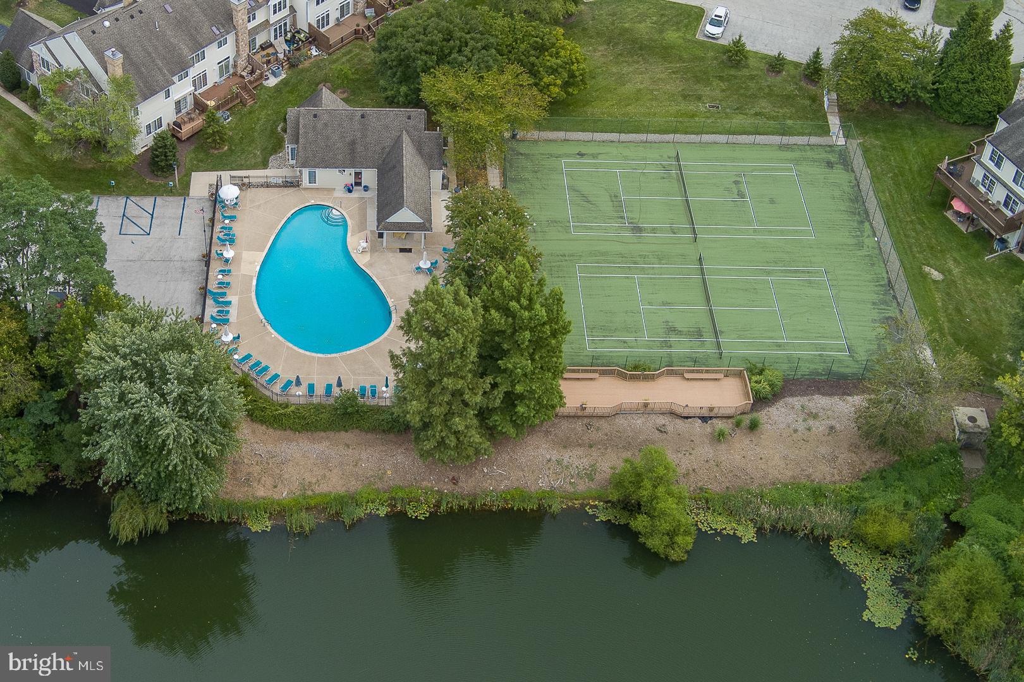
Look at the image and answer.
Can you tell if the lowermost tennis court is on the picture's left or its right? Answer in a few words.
right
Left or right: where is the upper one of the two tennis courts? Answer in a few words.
right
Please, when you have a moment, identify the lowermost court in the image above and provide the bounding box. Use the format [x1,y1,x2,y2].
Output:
[529,248,910,380]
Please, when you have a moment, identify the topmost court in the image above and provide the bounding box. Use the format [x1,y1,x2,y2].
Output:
[507,140,877,254]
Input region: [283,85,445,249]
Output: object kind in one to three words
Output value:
building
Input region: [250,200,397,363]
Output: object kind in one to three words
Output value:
swimming pool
